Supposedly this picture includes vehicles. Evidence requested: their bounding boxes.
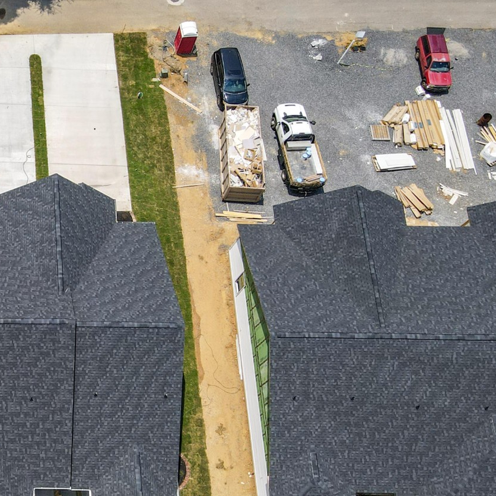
[268,101,325,191]
[211,49,250,107]
[415,24,452,96]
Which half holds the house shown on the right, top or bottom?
bottom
